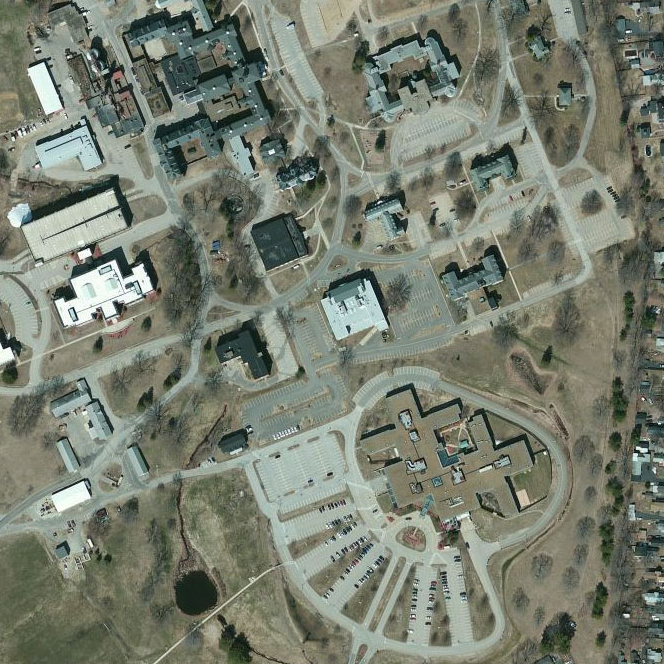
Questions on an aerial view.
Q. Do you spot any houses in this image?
Yes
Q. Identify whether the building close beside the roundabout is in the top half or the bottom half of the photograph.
bottom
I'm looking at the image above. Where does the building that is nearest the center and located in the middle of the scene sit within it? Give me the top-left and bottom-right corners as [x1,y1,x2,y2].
[321,279,388,340]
